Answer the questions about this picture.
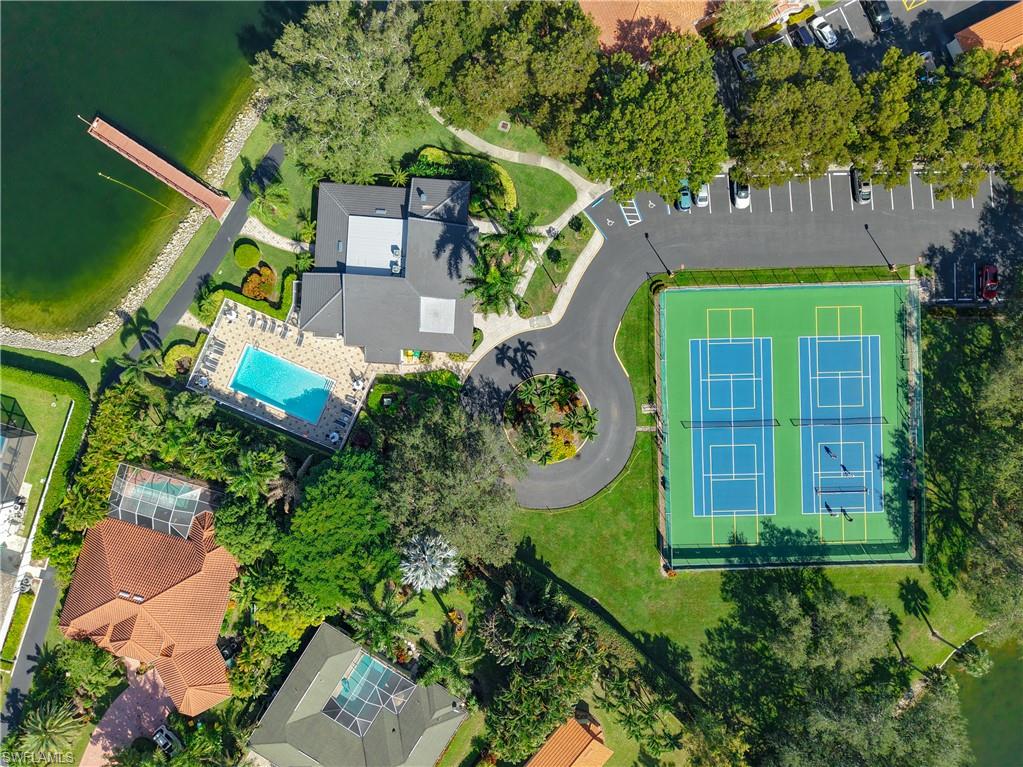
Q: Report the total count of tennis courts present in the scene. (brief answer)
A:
2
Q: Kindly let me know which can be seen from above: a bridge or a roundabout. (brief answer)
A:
roundabout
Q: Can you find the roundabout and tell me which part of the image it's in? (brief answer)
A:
center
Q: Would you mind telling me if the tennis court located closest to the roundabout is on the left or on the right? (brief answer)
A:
right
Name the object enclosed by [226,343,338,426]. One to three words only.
swimming pool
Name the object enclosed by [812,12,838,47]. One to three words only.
car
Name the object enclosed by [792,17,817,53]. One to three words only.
car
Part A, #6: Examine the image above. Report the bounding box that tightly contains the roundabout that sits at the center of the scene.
[504,373,597,465]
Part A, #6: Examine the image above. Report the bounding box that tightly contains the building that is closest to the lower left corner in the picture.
[59,511,240,717]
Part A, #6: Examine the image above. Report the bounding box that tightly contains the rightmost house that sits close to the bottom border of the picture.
[521,708,613,767]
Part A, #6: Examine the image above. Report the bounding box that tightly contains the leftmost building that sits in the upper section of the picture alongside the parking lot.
[300,178,476,365]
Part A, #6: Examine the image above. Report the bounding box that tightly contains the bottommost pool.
[338,652,407,728]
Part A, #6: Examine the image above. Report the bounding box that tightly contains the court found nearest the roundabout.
[660,287,790,565]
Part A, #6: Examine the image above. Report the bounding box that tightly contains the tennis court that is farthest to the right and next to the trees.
[786,284,911,562]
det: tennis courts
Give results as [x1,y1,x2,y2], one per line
[786,284,911,562]
[660,287,790,565]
